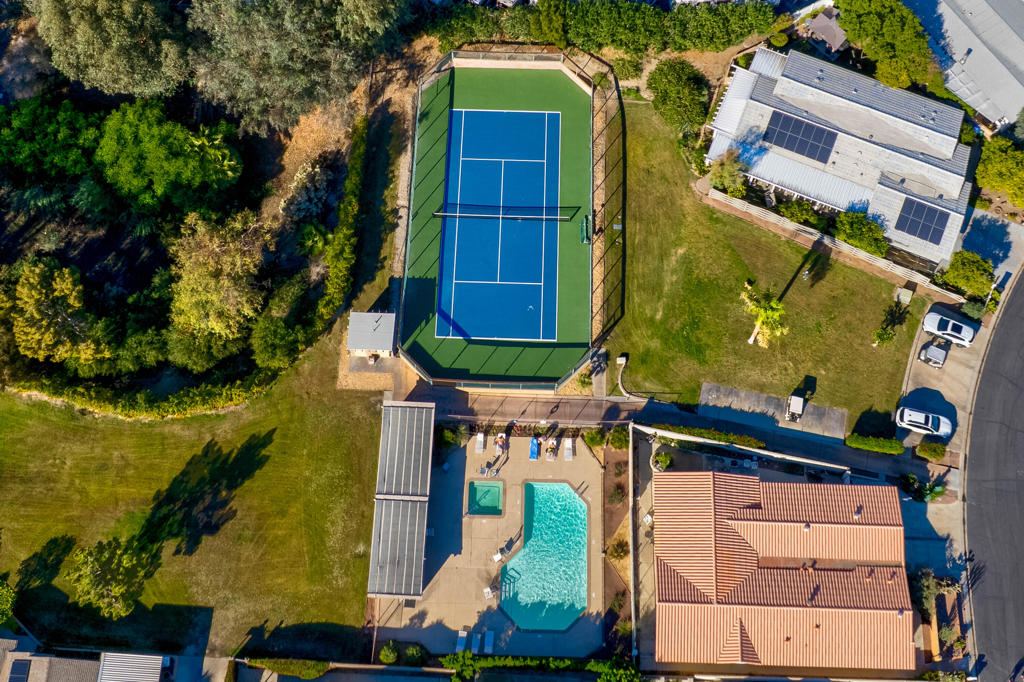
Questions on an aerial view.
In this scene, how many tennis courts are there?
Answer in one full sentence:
Only 1 tennis court is visible.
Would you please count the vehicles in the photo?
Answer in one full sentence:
Altogether the scene contains 4 vehicles.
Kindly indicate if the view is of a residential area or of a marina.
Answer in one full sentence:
This looks like a residential area.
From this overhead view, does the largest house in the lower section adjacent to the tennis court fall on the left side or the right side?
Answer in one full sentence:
The largest house in the lower section adjacent to the tennis court is on the right side of the image.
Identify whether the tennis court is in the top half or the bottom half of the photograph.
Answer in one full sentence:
The tennis court is in the top half of the image.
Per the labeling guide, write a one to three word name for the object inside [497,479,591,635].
swimming pool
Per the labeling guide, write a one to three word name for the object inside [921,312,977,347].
car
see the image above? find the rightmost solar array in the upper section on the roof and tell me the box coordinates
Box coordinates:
[893,196,952,246]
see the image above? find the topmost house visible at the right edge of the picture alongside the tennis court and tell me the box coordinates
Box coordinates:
[702,45,973,264]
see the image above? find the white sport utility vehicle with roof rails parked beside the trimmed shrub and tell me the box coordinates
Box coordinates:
[894,407,953,441]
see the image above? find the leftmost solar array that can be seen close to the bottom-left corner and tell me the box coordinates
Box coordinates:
[9,661,32,682]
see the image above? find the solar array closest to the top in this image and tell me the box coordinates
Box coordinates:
[762,108,840,164]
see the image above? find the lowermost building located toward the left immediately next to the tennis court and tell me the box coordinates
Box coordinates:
[364,399,436,599]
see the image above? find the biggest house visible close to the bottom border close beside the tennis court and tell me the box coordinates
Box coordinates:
[653,472,917,670]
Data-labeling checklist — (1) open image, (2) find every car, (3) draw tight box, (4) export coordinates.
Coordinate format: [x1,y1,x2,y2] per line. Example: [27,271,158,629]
[894,407,953,441]
[921,312,977,347]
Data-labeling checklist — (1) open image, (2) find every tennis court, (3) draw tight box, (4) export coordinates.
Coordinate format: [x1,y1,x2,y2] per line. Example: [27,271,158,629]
[397,58,593,396]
